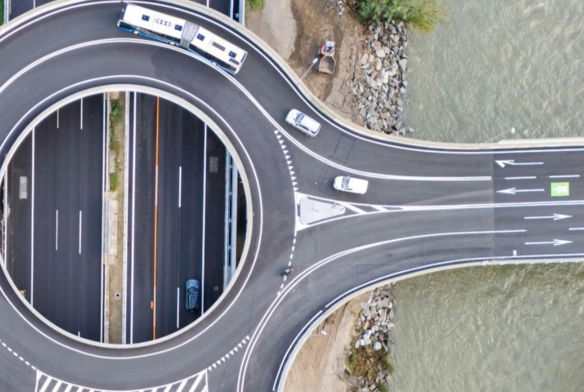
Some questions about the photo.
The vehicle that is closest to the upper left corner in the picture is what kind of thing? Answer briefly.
bus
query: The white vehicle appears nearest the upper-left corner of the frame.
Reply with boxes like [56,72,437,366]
[120,3,246,75]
